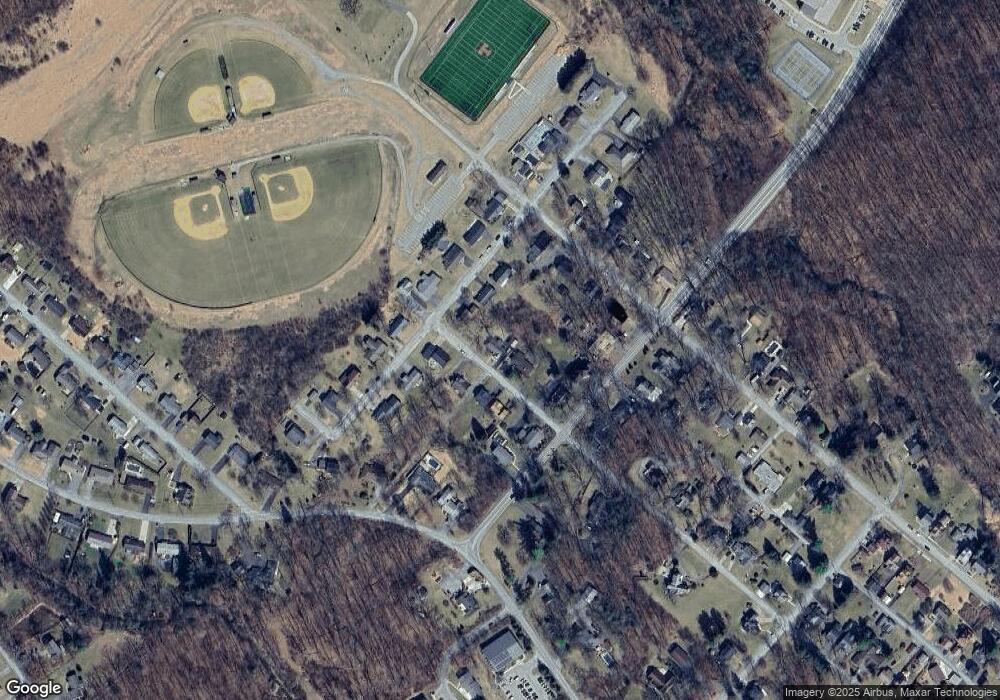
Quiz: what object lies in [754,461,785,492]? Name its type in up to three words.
building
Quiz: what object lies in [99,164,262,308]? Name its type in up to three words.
baseball field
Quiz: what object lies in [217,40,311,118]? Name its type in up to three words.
baseball field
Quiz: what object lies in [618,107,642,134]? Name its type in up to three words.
house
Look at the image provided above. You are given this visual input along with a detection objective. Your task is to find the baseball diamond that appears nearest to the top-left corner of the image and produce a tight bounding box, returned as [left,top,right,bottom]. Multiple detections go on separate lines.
[147,47,231,141]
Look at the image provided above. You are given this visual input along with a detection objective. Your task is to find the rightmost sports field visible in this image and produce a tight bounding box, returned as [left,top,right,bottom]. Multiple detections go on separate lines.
[420,0,550,120]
